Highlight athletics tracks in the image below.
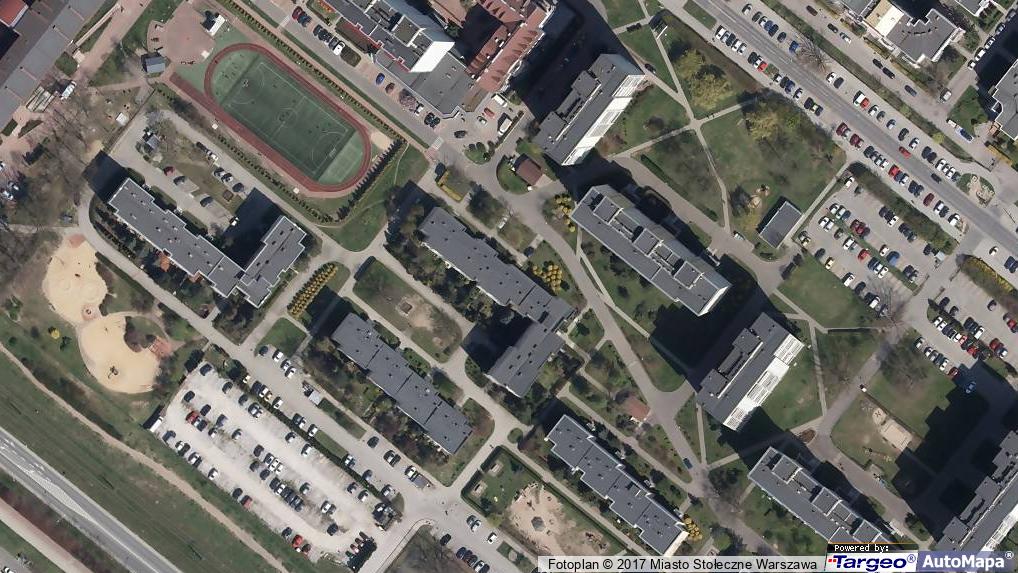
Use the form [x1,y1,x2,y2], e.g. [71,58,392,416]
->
[170,42,371,192]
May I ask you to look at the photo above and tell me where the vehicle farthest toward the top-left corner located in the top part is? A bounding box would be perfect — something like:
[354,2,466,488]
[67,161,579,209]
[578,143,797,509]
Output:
[58,80,79,101]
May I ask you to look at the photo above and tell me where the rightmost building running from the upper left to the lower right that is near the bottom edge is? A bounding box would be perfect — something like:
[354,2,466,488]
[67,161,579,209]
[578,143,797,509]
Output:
[749,447,912,573]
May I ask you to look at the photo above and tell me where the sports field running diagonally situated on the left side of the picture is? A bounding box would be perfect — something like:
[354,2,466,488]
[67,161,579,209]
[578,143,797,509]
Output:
[212,50,363,184]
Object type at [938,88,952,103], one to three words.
vehicle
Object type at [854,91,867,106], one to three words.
vehicle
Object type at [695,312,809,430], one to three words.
building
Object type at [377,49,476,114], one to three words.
building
